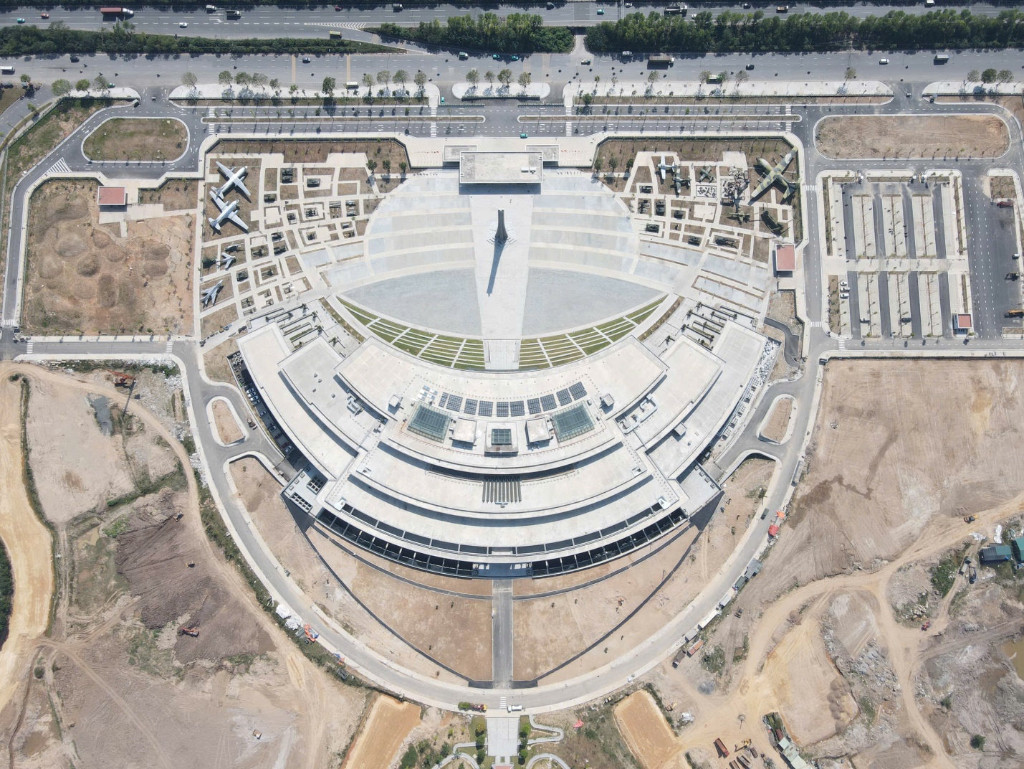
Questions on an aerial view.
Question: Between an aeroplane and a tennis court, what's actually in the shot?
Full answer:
Visible in the photo is an aeroplane.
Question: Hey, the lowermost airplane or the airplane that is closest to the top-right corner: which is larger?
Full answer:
The airplane that is closest to the top-right corner takes up more space than the lowermost airplane does.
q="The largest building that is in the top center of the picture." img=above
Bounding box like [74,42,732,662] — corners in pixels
[459,151,543,187]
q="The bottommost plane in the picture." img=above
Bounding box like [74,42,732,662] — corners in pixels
[198,280,223,304]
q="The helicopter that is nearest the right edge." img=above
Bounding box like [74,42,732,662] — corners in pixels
[759,201,794,238]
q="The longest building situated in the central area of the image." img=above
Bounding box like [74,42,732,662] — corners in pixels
[236,322,768,578]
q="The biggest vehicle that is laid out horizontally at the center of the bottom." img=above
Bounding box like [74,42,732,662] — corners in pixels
[458,703,487,716]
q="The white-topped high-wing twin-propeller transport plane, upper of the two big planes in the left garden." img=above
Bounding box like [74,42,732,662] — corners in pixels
[214,159,253,196]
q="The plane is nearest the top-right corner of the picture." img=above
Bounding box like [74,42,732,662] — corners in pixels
[750,144,802,196]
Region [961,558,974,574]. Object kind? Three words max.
vehicle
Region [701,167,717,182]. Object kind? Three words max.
airplane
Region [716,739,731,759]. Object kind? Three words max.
vehicle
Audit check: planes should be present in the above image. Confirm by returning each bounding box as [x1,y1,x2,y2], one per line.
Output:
[673,167,692,191]
[701,167,717,182]
[730,207,751,223]
[198,280,223,304]
[209,191,246,228]
[750,144,802,196]
[658,153,677,178]
[735,182,750,204]
[215,250,235,268]
[214,159,253,196]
